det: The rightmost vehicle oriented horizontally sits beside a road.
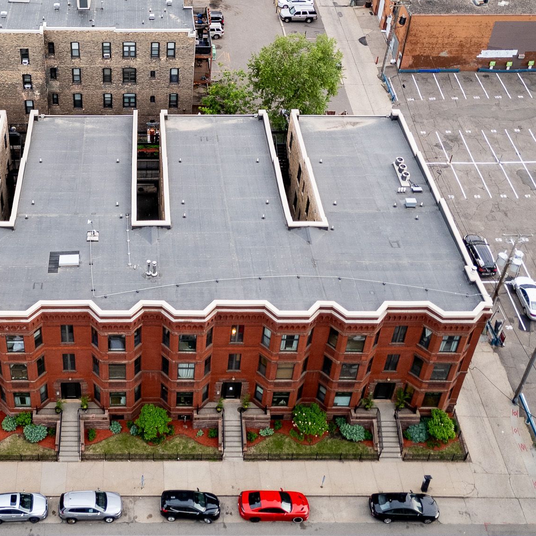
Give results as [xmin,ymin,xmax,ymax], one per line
[362,492,436,527]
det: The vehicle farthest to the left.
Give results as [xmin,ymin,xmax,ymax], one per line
[0,491,52,527]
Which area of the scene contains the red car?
bottom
